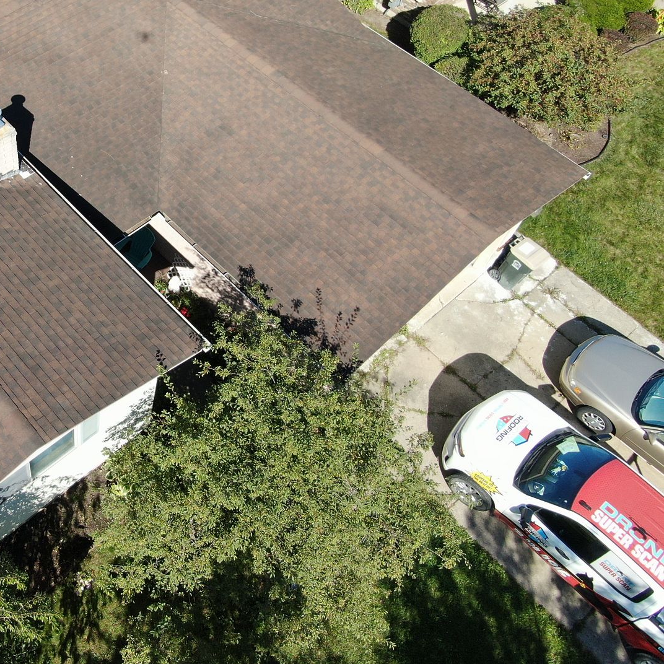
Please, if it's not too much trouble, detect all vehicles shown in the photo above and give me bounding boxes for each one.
[548,330,664,473]
[442,389,664,664]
